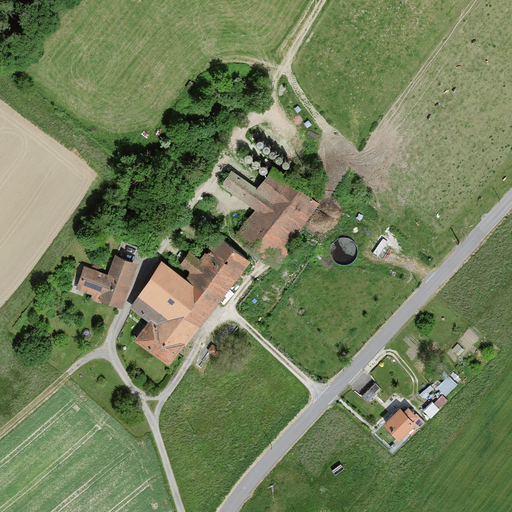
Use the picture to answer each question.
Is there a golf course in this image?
No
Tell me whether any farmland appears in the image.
Yes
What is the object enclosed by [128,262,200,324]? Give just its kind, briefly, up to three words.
barn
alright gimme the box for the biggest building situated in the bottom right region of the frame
[384,407,423,442]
